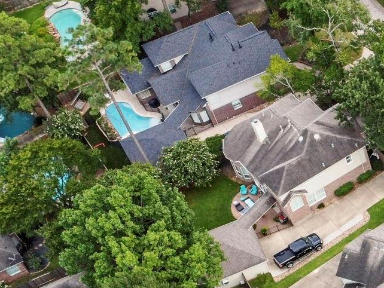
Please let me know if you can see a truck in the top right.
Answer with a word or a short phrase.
No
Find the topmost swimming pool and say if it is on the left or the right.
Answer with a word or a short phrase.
left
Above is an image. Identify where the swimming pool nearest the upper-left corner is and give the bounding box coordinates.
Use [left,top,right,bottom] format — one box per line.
[47,6,86,61]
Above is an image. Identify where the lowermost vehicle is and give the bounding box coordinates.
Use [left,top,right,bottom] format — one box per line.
[268,233,328,269]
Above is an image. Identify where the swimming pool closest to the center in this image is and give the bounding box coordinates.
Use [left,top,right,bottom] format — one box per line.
[102,100,165,139]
